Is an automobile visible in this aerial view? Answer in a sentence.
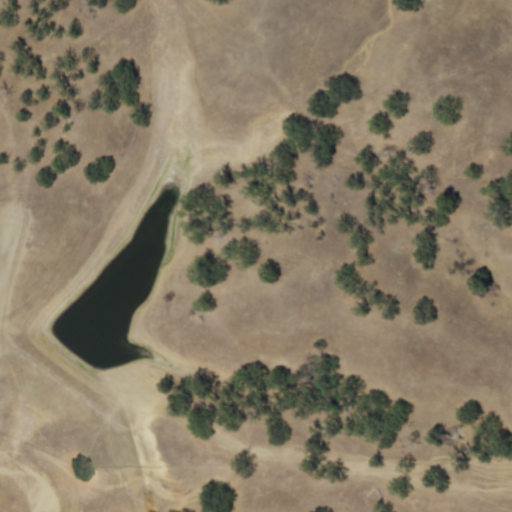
No, no automobile is visible in the view.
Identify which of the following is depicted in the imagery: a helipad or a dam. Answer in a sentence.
It is a dam that can be seen here.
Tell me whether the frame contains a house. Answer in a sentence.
No, there's no house here.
